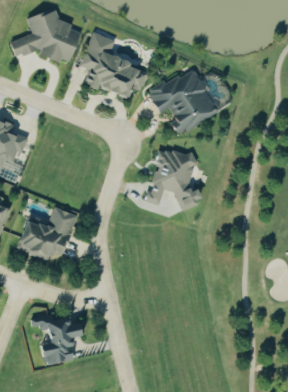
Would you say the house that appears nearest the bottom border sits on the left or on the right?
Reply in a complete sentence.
You can find the house that appears nearest the bottom border on the left side of the picture.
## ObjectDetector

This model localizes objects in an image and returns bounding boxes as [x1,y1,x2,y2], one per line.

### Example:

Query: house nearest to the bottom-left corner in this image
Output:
[31,320,84,366]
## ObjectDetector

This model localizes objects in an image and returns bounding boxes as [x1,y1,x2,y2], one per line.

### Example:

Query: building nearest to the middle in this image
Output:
[146,148,205,210]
